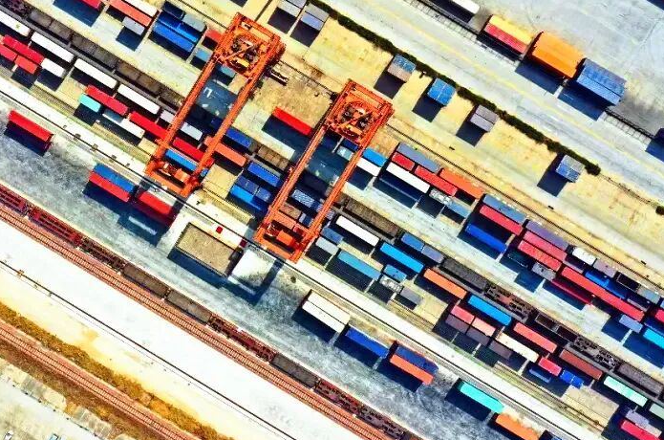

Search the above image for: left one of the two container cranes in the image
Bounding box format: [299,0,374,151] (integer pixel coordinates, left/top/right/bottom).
[143,14,279,206]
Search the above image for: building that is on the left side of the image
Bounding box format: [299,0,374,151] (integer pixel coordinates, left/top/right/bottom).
[175,222,238,274]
